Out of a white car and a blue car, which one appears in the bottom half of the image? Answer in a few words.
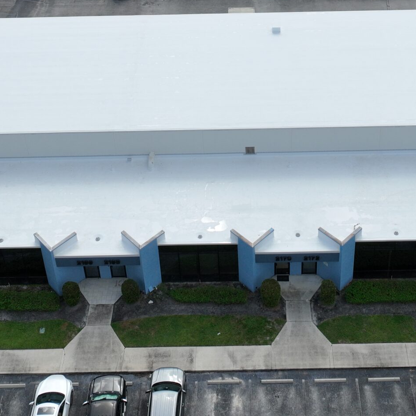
white car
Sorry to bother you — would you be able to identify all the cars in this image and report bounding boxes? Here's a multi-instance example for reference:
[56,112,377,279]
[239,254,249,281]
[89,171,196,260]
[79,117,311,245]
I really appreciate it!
[29,374,70,416]
[84,375,127,416]
[144,368,187,416]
